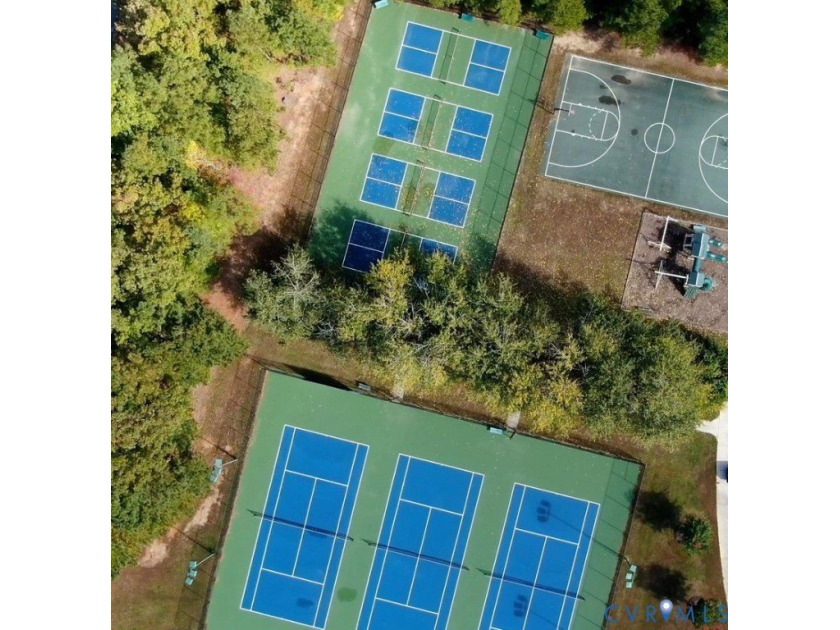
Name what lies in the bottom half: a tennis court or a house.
tennis court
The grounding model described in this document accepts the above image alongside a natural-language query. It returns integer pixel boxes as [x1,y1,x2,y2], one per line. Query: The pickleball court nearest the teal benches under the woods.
[395,21,512,95]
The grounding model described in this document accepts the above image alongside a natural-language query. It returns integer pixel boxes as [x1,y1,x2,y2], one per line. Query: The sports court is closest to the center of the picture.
[345,221,460,291]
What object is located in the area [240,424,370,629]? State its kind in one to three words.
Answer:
tennis court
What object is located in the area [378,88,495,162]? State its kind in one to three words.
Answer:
sports court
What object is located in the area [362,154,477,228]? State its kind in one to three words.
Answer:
sports court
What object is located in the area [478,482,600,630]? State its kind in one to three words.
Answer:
tennis court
